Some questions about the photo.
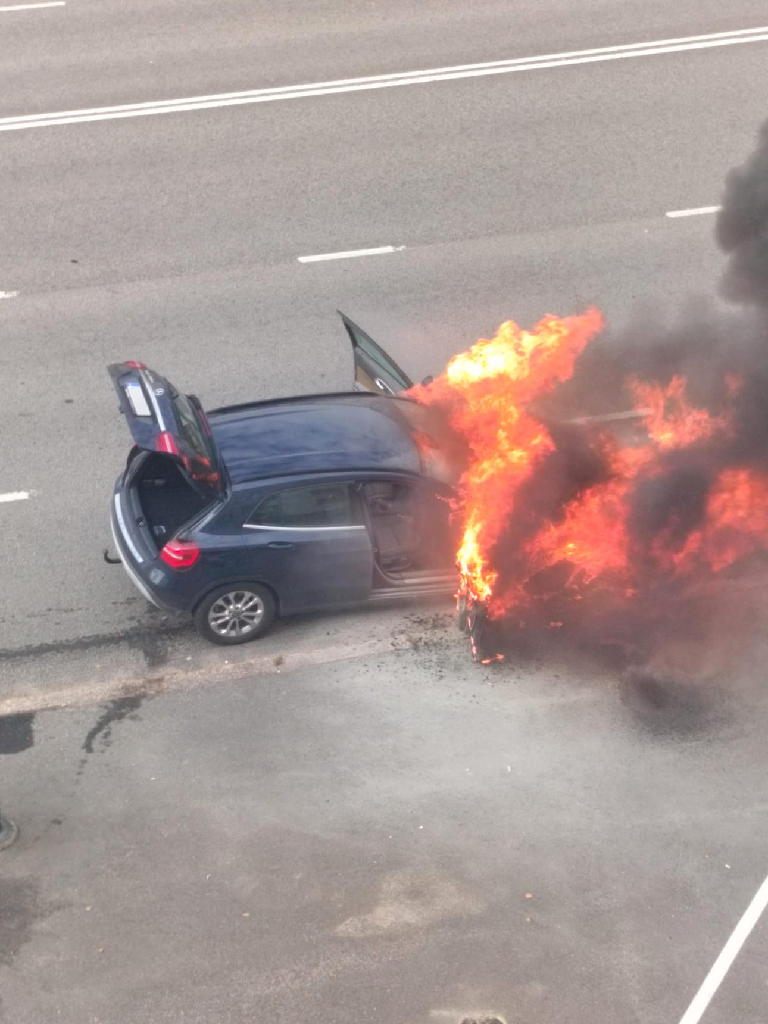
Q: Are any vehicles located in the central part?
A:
Yes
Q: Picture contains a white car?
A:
No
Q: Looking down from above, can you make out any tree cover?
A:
No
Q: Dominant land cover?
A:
paved ground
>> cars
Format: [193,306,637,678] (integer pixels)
[97,306,615,655]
